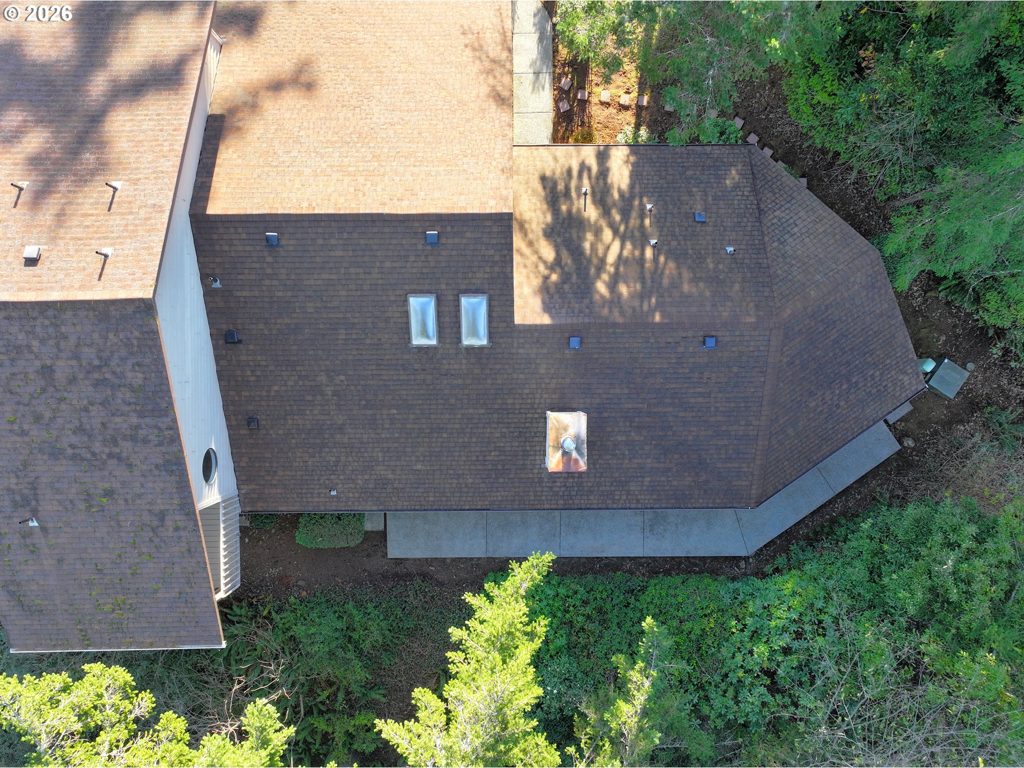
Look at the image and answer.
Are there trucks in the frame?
No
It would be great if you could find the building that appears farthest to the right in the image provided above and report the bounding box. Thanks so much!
[190,0,931,516]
